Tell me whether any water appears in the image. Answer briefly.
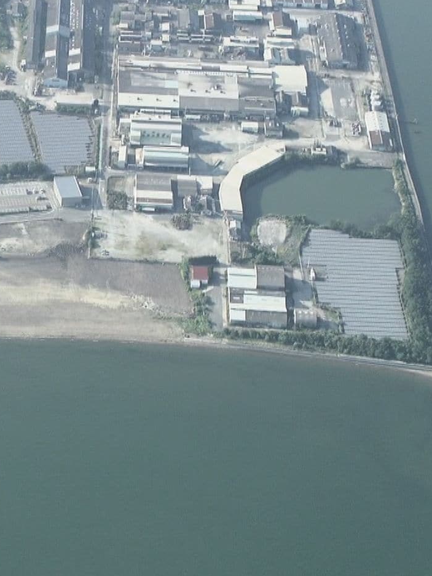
Yes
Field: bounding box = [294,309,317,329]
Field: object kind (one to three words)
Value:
building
